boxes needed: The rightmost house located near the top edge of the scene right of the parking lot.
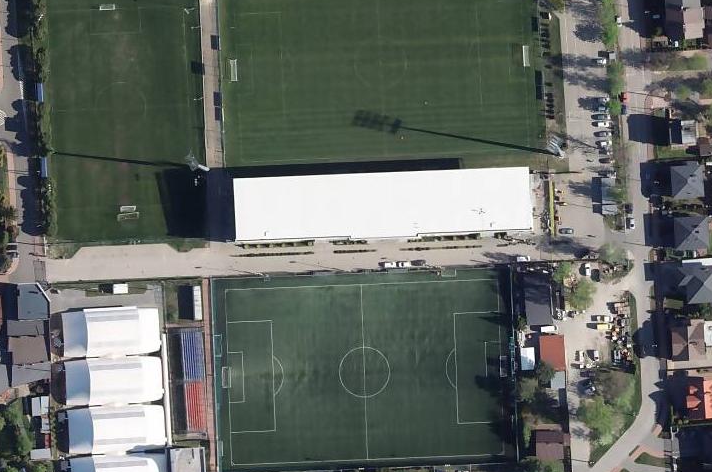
[664,0,712,47]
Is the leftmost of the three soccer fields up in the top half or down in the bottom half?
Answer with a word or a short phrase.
top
